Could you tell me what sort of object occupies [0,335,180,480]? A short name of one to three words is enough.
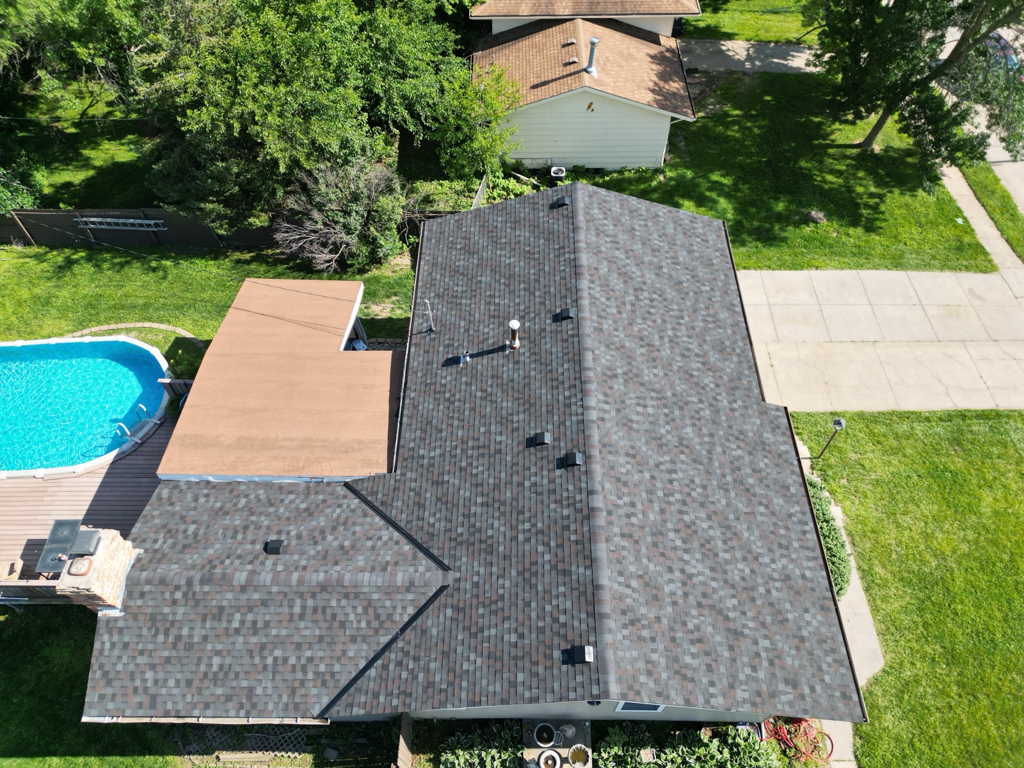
swimming pool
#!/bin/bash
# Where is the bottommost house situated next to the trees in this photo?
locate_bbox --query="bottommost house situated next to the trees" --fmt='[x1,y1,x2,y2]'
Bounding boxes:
[60,181,868,725]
